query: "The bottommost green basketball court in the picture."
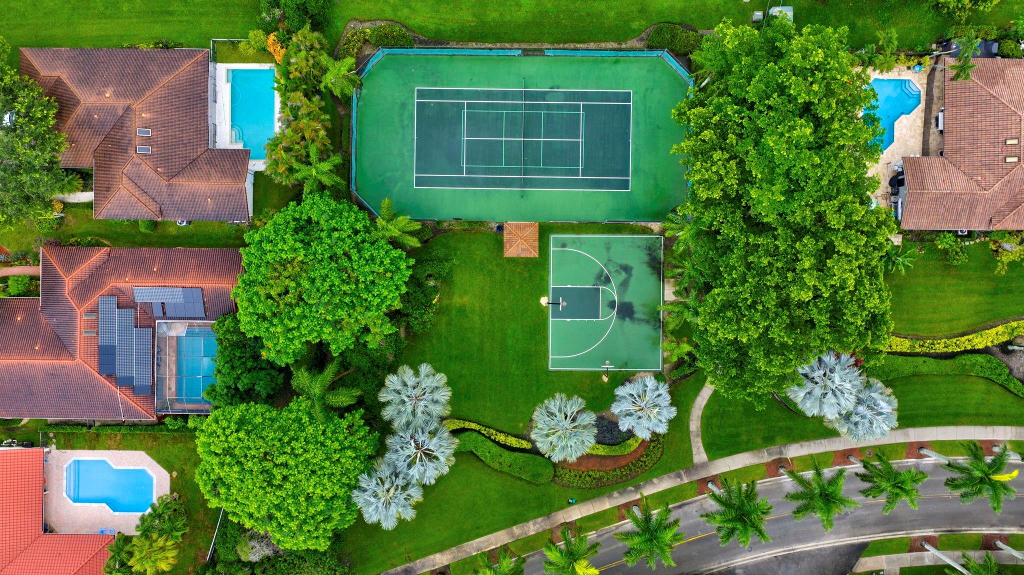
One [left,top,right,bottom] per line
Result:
[549,234,665,373]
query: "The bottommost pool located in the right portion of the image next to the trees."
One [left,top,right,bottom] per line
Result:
[858,76,923,153]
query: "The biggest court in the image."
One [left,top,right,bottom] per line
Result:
[355,56,689,222]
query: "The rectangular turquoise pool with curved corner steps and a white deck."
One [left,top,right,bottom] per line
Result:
[224,67,280,161]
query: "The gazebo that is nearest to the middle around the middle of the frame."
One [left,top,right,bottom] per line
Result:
[503,222,539,258]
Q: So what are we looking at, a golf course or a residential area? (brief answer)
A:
residential area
